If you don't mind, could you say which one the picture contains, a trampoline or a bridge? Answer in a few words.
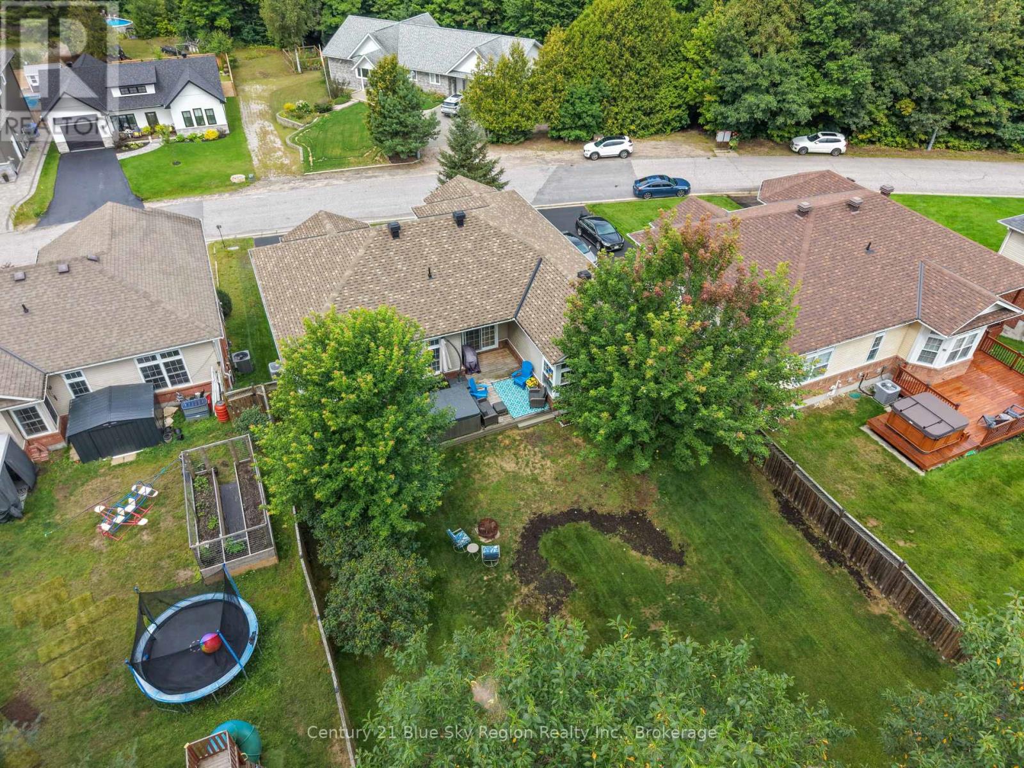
trampoline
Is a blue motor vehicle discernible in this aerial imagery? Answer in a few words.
Yes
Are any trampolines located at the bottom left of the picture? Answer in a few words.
Yes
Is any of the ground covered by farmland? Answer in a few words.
No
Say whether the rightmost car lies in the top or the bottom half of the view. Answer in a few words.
top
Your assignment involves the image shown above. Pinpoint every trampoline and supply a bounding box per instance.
[134,575,263,714]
